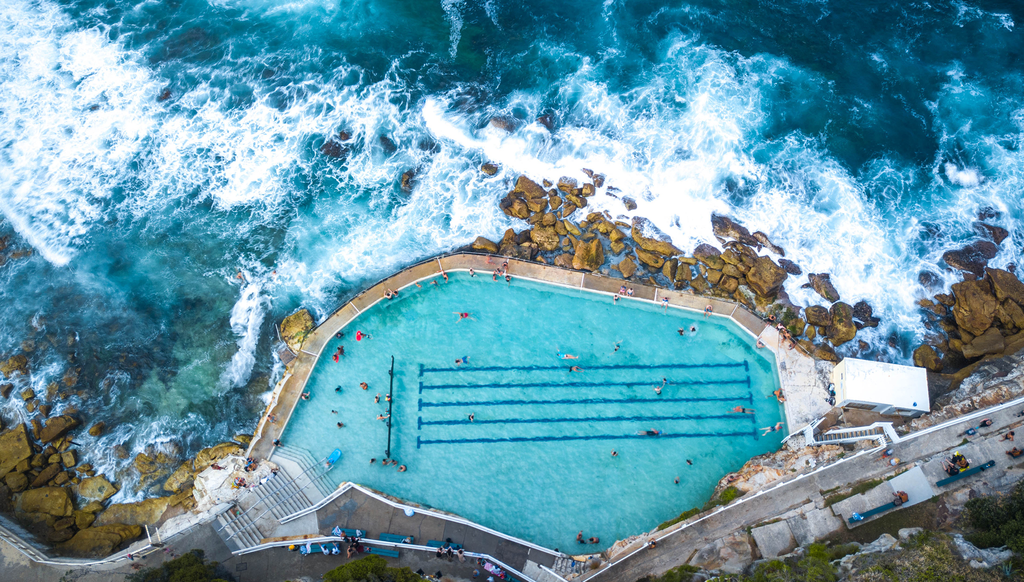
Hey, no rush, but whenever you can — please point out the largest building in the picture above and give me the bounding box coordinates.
[831,358,930,418]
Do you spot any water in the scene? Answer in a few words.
Yes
